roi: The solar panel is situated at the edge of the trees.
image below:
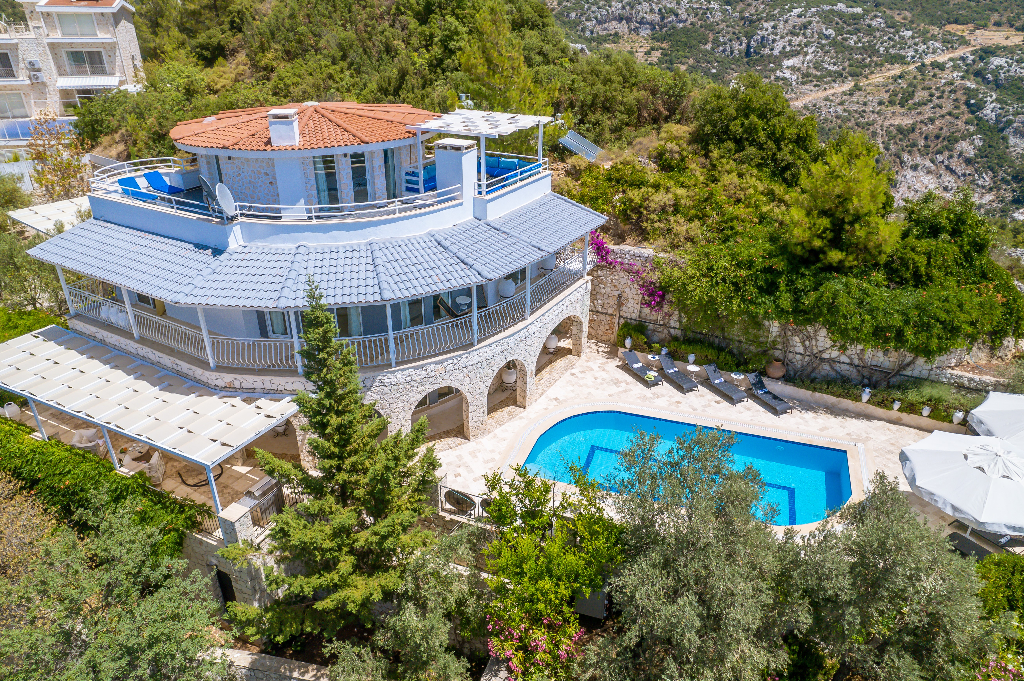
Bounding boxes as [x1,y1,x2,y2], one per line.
[557,130,603,201]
